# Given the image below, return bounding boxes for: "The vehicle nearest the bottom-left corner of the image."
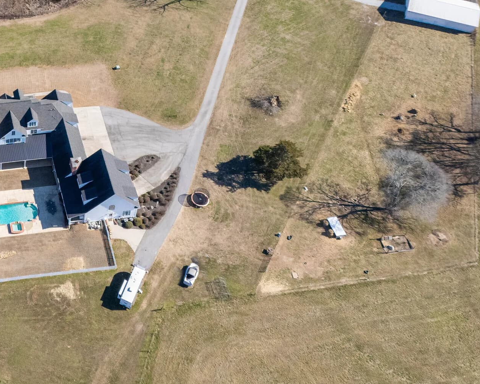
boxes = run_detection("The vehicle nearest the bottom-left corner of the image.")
[115,266,147,312]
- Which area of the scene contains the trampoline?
center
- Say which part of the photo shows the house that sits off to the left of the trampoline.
left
